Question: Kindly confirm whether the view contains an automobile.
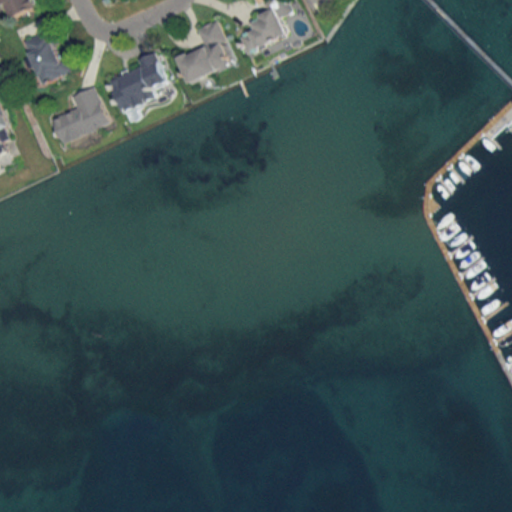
No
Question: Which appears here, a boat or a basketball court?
boat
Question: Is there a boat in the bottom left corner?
No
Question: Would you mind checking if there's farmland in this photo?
No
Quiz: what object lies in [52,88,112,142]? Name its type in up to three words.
house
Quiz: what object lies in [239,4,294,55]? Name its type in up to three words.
house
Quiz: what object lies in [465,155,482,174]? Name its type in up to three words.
boat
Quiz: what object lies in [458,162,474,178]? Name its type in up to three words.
boat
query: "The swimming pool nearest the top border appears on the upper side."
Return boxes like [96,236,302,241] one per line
[294,19,309,37]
